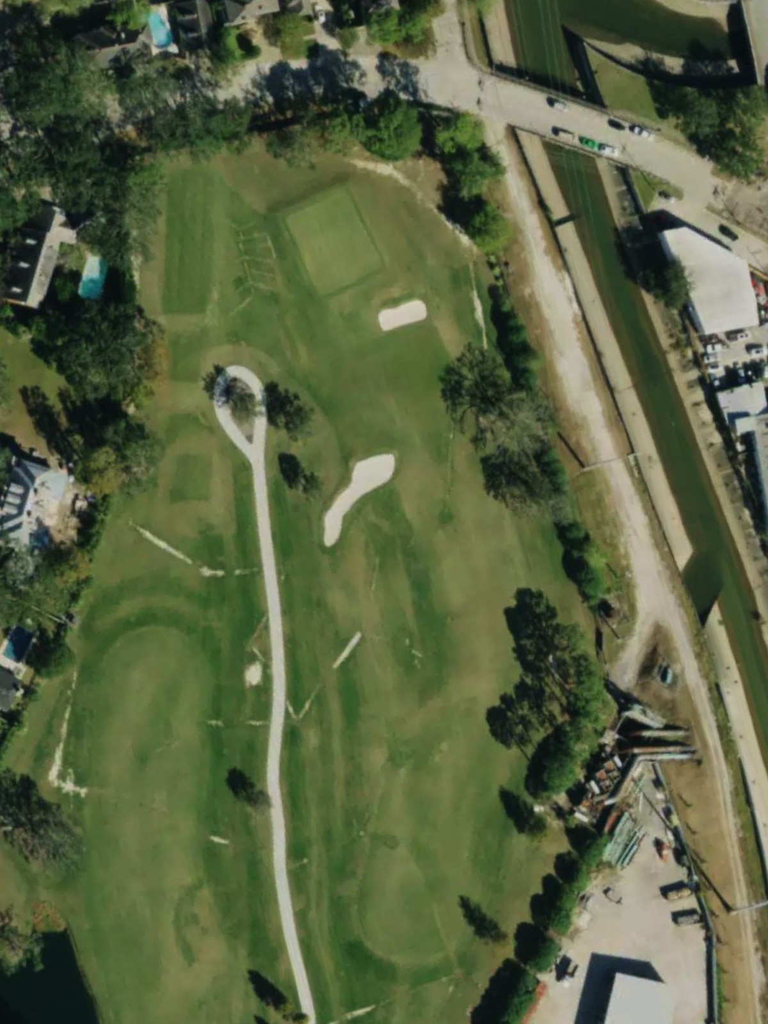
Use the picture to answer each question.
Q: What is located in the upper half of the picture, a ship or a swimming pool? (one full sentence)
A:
The one visible in the upper half of the picture is a swimming pool.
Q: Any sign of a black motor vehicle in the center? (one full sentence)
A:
No, there's no black motor vehicle to be seen in the center.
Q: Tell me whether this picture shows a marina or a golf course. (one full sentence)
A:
This image shows a golf course.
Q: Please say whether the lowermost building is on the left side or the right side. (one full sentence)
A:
It is on the right.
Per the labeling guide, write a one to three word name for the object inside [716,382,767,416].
shed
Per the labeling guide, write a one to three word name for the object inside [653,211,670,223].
vehicle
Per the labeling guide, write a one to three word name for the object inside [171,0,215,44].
house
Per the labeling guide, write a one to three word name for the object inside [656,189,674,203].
car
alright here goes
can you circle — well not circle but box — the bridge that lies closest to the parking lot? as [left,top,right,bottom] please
[488,62,656,183]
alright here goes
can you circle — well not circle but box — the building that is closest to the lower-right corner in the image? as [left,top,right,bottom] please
[595,973,670,1024]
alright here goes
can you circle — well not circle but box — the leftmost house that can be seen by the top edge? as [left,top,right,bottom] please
[68,29,153,71]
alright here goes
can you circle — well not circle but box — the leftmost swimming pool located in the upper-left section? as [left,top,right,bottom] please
[79,255,107,300]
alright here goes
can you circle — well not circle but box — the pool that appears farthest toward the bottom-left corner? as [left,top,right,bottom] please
[0,627,36,682]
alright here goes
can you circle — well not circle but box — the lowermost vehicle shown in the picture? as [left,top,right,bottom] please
[561,962,573,982]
